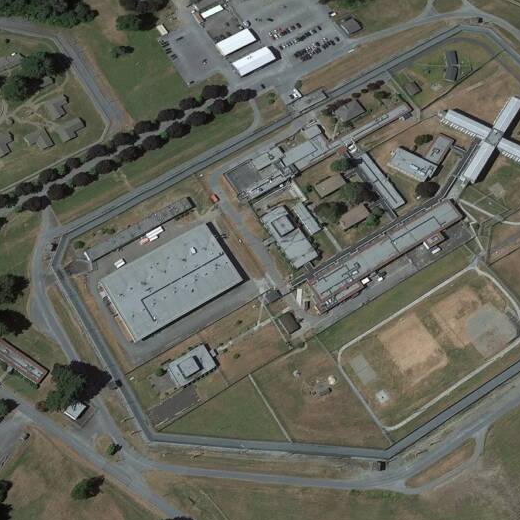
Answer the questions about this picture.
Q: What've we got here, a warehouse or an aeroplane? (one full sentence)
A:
This aerial view contains a warehouse.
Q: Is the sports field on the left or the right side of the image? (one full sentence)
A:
The sports field is on the right side of the image.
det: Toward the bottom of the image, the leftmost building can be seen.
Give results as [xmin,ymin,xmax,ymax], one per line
[0,339,44,384]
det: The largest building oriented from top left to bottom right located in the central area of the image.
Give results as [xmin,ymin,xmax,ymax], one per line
[260,206,317,268]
